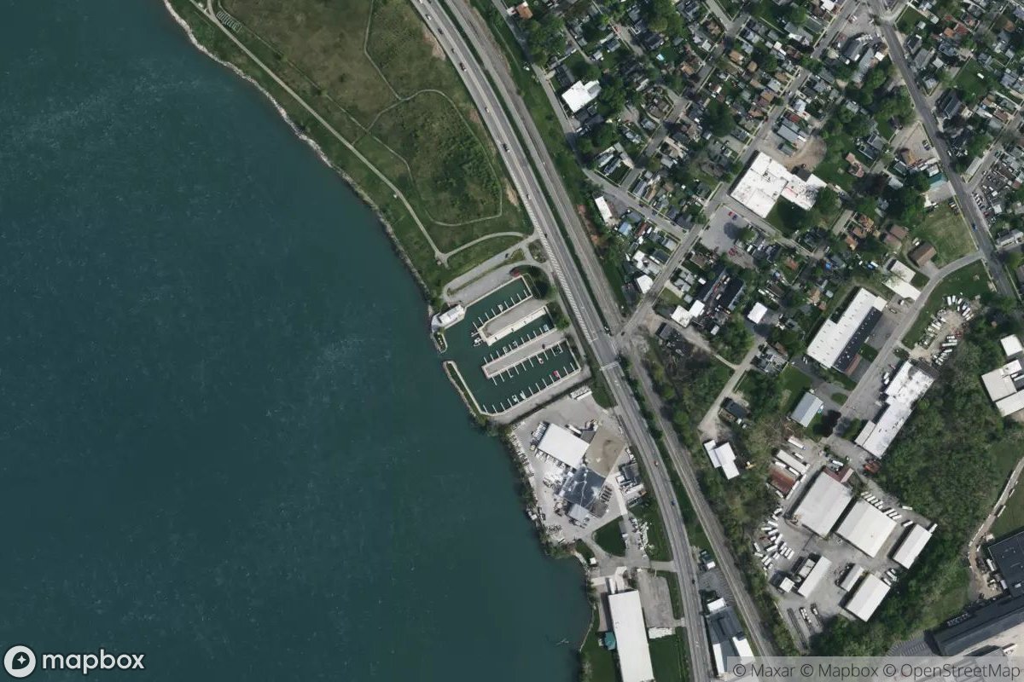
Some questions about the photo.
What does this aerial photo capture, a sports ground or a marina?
marina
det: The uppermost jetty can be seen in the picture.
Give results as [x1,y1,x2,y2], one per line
[471,290,549,345]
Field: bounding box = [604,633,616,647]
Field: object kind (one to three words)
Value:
gazebo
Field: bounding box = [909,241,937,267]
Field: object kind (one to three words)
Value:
house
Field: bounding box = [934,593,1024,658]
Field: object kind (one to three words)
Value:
building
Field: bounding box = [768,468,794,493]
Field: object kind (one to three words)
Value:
shed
